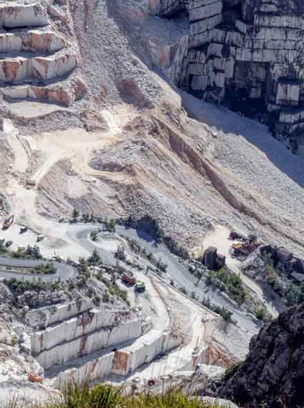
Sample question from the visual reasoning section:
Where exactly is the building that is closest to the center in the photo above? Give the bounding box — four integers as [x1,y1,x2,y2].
[201,244,230,273]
